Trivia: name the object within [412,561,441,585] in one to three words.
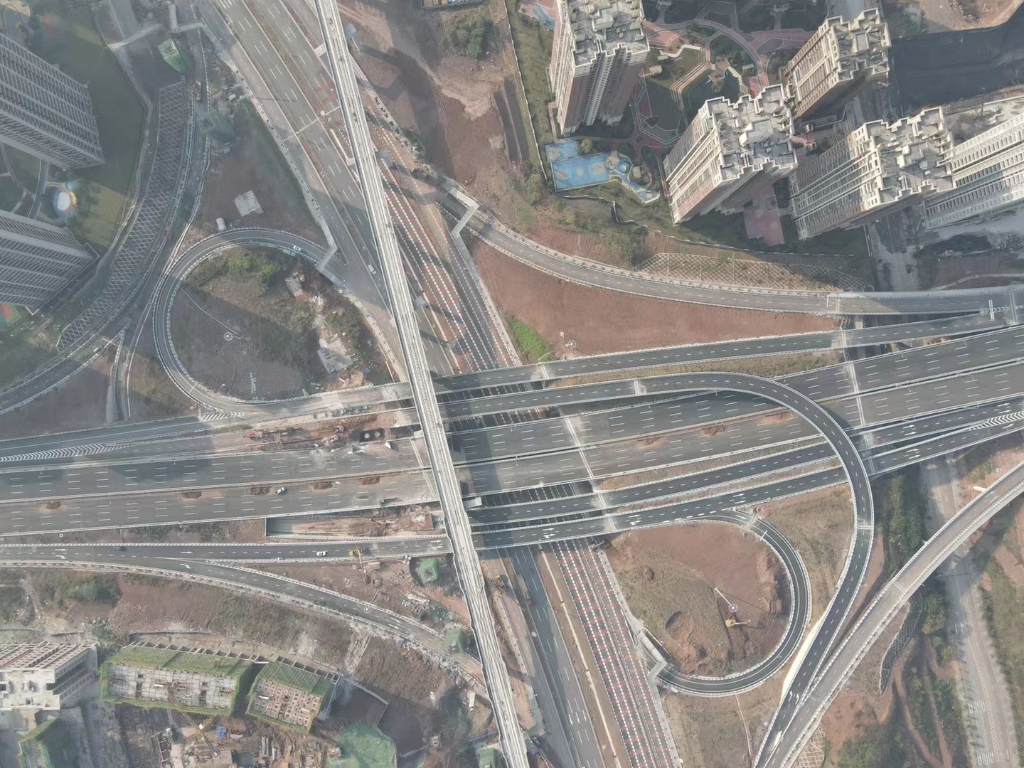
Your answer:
shed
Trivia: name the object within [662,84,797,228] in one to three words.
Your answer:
building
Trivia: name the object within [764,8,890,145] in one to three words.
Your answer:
building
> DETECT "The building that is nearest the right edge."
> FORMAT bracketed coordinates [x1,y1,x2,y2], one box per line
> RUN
[919,107,1024,231]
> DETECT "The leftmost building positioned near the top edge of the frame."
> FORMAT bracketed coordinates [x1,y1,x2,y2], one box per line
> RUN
[0,22,106,178]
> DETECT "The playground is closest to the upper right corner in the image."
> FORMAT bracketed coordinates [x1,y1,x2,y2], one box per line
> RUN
[546,141,661,204]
